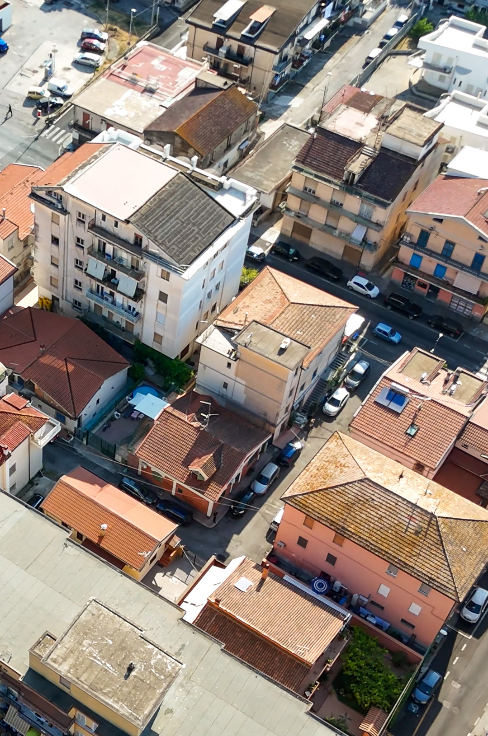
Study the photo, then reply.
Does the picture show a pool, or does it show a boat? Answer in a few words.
pool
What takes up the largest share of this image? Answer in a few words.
buildings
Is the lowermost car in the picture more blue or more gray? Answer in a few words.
blue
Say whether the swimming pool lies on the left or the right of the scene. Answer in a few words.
left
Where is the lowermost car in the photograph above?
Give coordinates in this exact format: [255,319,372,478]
[409,663,445,708]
